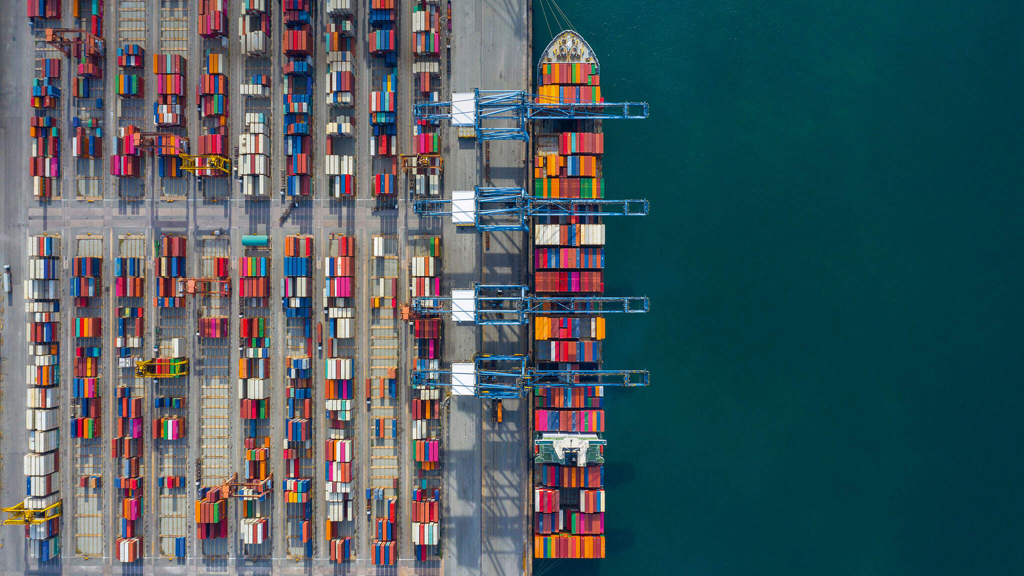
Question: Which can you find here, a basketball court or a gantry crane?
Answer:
gantry crane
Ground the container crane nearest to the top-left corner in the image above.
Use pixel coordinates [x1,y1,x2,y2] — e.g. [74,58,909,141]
[45,28,107,58]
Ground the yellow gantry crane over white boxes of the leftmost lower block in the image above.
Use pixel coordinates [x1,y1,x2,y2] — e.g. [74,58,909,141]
[1,495,62,525]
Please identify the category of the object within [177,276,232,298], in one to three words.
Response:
container crane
